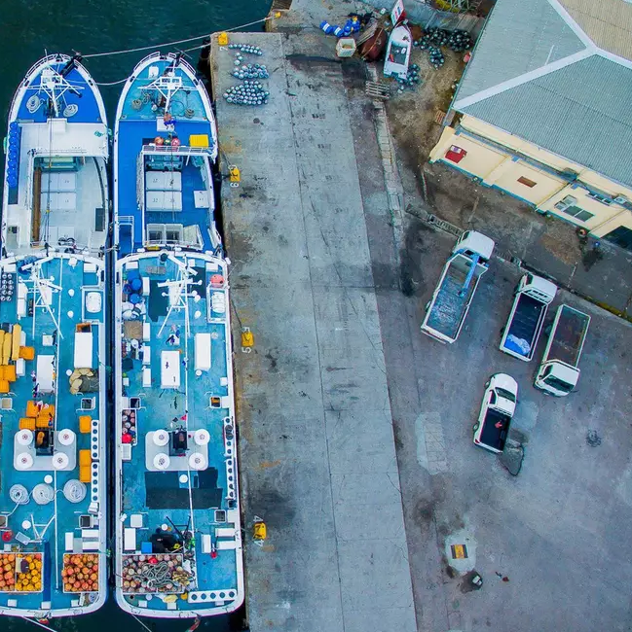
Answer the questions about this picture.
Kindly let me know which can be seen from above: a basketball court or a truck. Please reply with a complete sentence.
I can see a truck in this picture.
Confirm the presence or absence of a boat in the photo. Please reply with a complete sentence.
Yes, the photo shows a boat.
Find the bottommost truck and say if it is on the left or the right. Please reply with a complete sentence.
It is on the right.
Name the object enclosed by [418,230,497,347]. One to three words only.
truck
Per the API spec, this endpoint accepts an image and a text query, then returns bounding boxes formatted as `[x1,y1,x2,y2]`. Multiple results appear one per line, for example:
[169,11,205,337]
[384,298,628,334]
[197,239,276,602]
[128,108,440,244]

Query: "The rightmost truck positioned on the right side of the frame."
[529,307,590,403]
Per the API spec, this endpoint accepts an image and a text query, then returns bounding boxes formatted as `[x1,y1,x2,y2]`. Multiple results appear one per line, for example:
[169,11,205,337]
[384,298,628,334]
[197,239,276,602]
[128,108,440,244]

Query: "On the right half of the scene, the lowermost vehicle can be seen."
[469,373,518,460]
